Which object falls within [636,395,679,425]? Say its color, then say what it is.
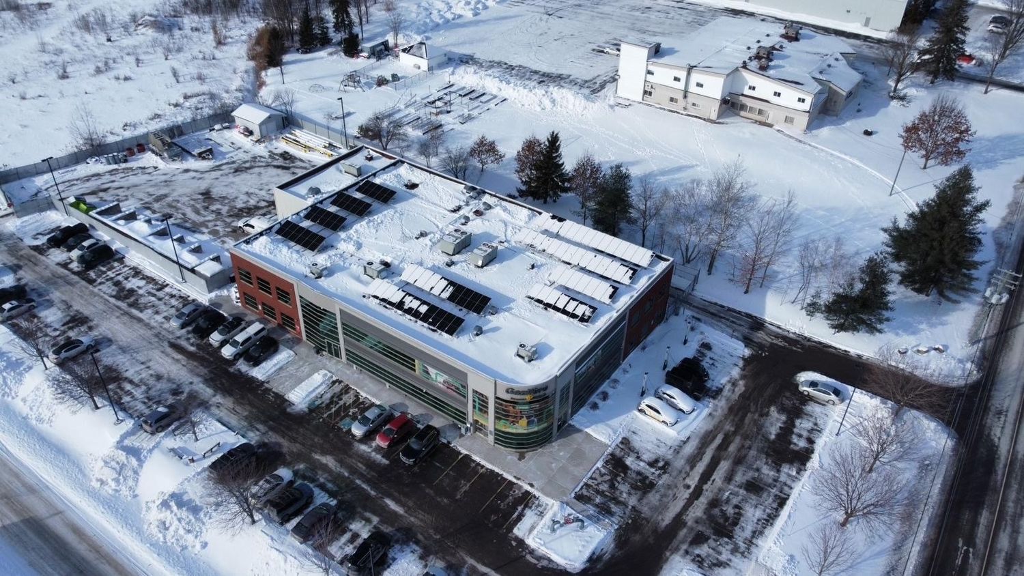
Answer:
white car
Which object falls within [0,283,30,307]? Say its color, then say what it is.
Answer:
black car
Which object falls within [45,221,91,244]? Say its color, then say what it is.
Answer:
black truck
